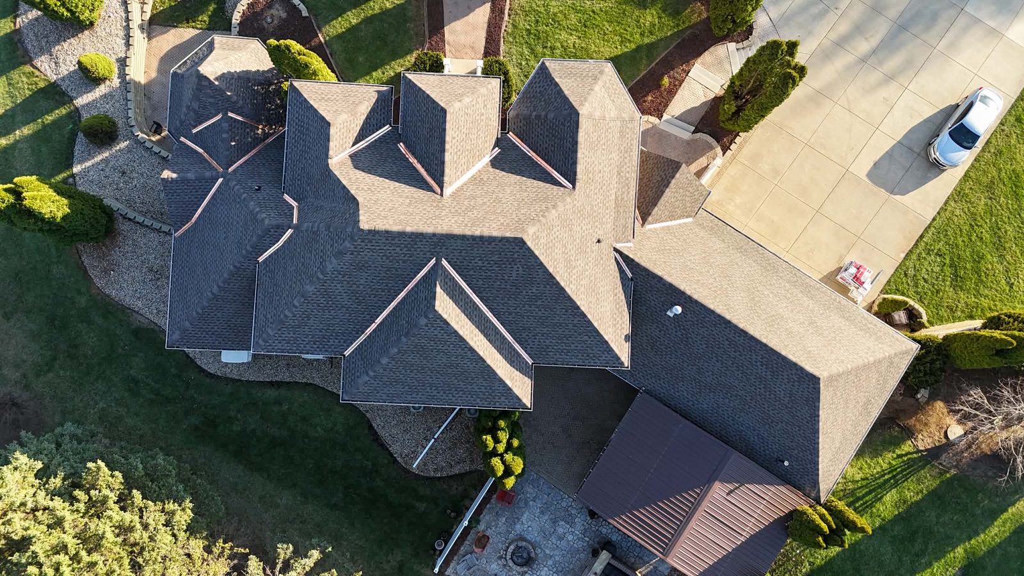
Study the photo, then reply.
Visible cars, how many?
1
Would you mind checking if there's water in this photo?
No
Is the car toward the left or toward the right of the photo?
right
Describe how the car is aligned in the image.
diagonally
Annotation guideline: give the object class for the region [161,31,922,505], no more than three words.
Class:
house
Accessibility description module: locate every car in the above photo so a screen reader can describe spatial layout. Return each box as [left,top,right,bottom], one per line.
[928,80,1011,172]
